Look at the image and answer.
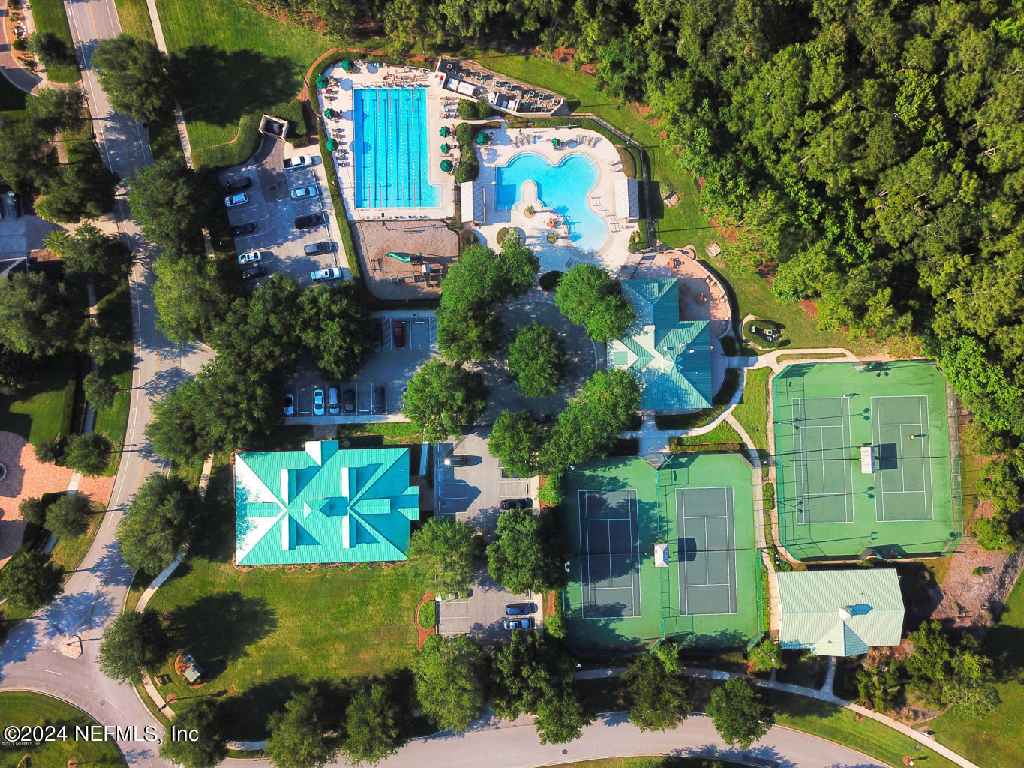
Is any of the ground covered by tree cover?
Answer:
Yes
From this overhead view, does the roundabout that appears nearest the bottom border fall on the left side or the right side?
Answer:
left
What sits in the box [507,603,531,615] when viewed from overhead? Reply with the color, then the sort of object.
blue vehicle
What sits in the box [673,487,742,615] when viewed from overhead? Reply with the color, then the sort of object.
gray tennis court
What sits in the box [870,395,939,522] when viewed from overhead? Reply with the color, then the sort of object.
green tennis court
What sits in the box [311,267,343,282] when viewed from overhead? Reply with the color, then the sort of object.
blue vehicle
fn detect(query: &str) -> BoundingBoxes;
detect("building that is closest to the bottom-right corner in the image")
[773,569,907,659]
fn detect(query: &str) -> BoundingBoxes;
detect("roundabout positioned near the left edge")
[0,640,179,768]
